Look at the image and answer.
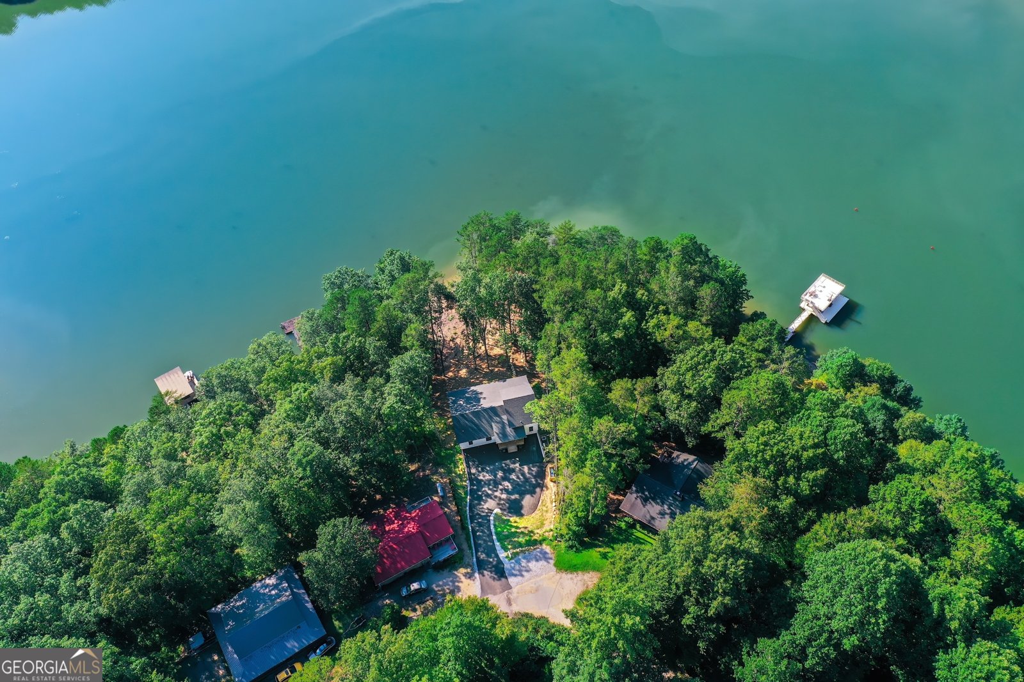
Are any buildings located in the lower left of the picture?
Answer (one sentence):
Yes, I can see a building in the lower left of the picture.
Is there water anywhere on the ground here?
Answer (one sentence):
Yes, the picture does contain water.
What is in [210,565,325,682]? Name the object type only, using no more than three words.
house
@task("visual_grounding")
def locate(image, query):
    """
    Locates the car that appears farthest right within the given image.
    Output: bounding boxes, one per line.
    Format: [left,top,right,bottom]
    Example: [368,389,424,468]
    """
[400,580,428,596]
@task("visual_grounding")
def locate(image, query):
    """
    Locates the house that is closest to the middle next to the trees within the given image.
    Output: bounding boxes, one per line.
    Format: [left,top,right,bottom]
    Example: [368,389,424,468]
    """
[446,374,538,455]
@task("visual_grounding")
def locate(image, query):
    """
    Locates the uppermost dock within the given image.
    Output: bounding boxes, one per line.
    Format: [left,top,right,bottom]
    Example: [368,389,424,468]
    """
[793,271,853,327]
